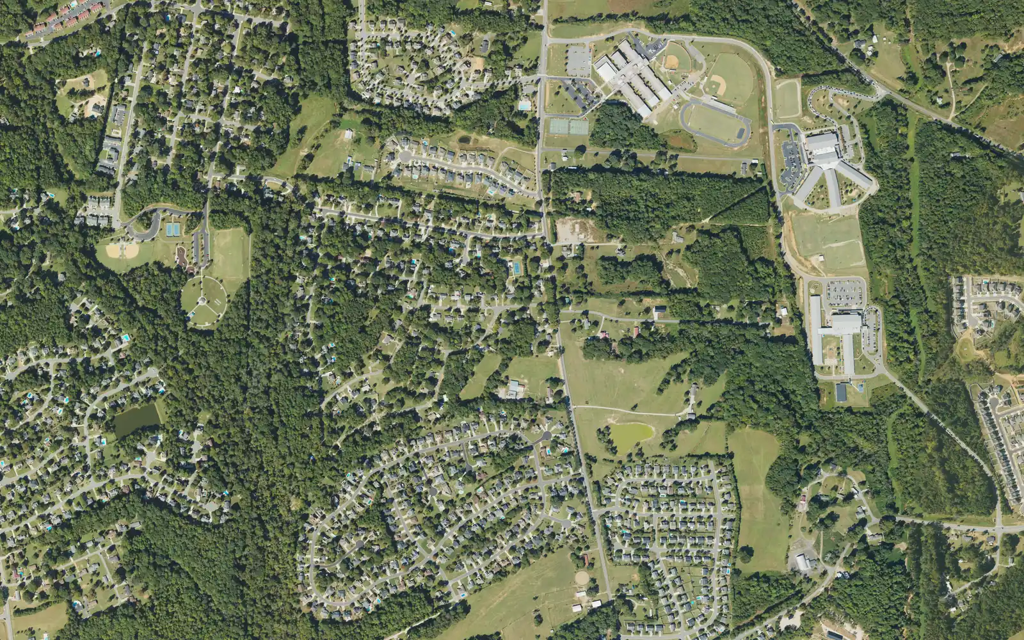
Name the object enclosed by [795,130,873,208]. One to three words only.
building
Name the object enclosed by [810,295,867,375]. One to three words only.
building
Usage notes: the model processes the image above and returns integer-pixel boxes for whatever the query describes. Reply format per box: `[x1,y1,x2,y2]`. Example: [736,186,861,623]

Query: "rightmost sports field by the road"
[791,214,865,271]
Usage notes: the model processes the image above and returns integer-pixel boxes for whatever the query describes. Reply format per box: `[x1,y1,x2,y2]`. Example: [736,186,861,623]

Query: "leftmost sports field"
[683,104,742,143]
